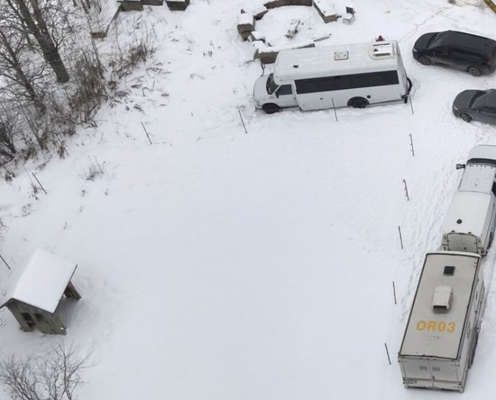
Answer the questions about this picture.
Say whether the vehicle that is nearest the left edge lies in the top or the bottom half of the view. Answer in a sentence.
You can find the vehicle that is nearest the left edge in the top half.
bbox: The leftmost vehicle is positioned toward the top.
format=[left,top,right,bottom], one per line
[259,44,417,109]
